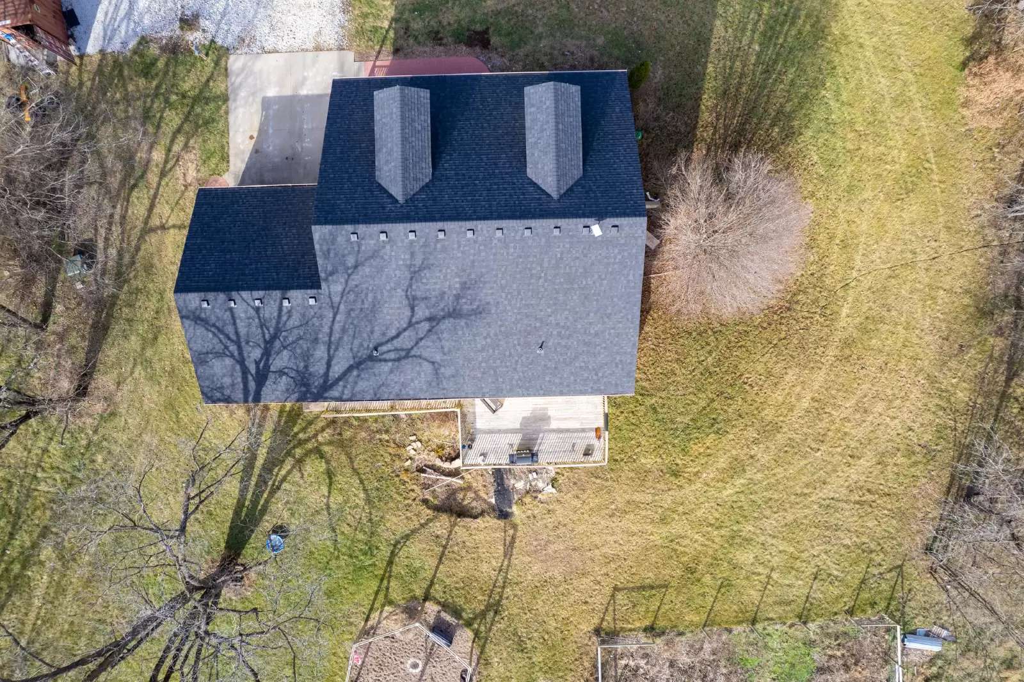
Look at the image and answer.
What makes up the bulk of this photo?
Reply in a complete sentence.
The scene is dominated by grass.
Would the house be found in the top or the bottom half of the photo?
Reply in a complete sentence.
Seen from above, the house lies in the top half of the view.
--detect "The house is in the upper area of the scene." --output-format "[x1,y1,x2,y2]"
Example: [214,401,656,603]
[174,68,647,405]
